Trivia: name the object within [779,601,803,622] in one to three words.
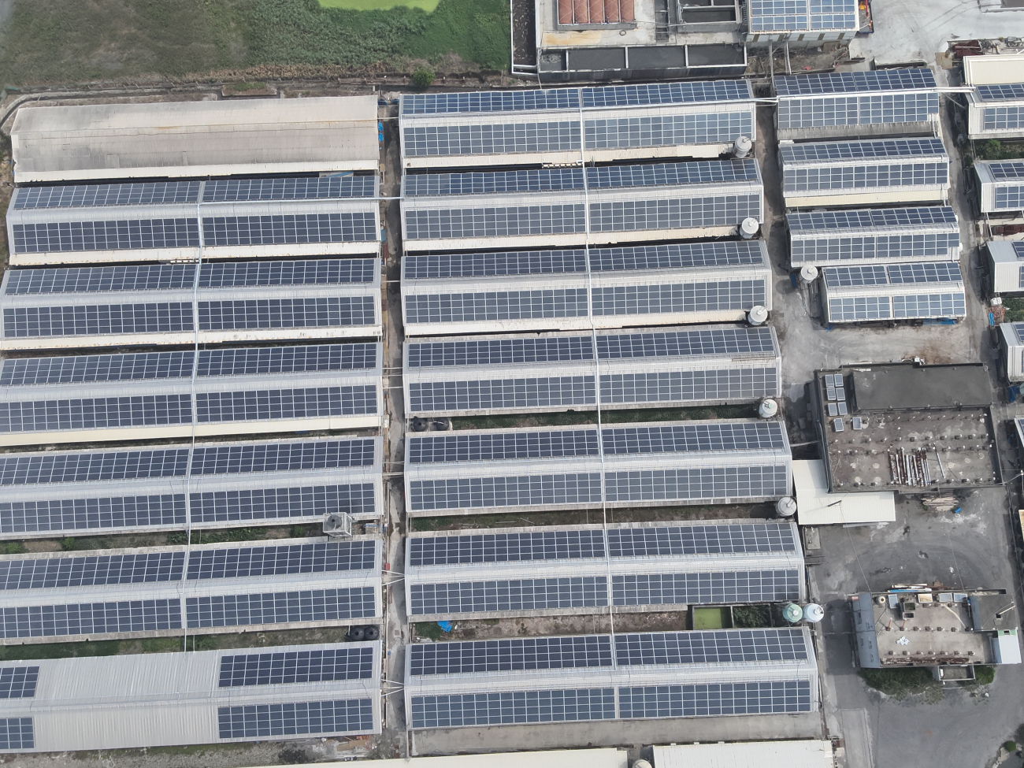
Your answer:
silo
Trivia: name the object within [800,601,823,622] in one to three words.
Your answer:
silo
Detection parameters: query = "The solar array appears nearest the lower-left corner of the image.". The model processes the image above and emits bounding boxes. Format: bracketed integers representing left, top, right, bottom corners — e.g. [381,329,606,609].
[0,718,35,750]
